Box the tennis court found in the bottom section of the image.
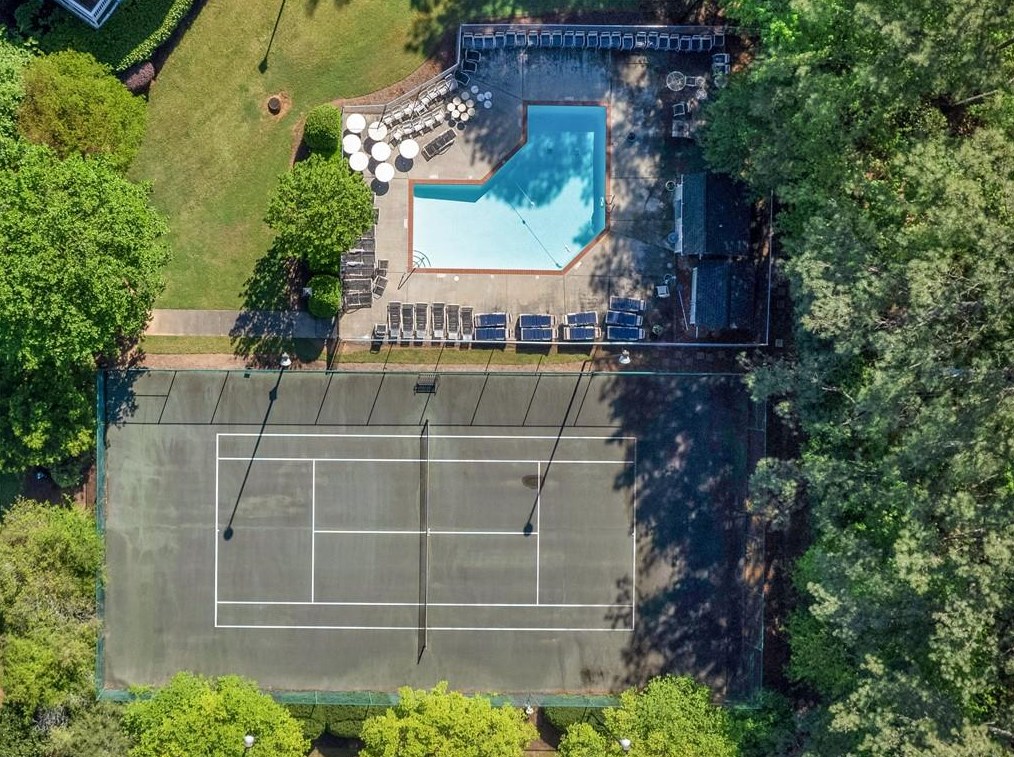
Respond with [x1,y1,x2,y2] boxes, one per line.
[105,373,750,692]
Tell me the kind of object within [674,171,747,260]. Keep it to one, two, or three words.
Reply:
shed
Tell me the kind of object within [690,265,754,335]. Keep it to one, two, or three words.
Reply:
shed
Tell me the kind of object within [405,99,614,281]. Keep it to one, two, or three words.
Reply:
swimming pool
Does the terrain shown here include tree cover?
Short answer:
Yes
